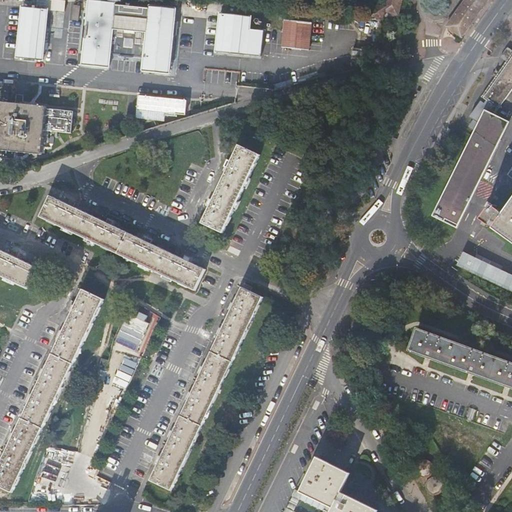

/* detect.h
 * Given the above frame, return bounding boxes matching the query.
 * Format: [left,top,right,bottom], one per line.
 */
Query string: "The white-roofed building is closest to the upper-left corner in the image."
[14,6,50,62]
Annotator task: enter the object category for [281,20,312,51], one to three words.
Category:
shed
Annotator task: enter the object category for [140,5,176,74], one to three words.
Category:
building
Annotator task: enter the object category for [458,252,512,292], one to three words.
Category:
shed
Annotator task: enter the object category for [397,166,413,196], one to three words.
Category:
vehicle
